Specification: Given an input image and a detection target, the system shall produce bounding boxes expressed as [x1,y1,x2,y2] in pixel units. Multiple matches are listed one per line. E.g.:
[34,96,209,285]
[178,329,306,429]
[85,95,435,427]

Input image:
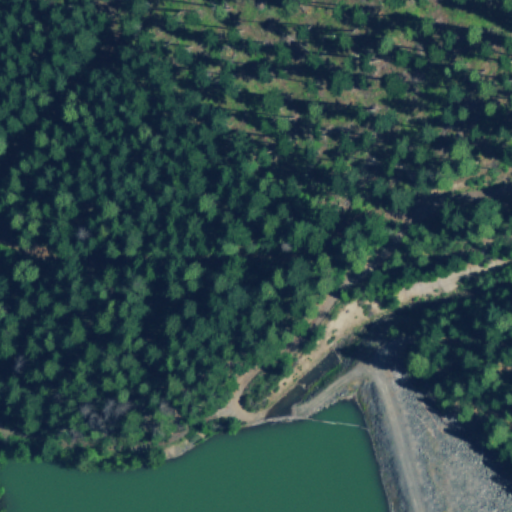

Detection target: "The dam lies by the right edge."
[360,368,512,512]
